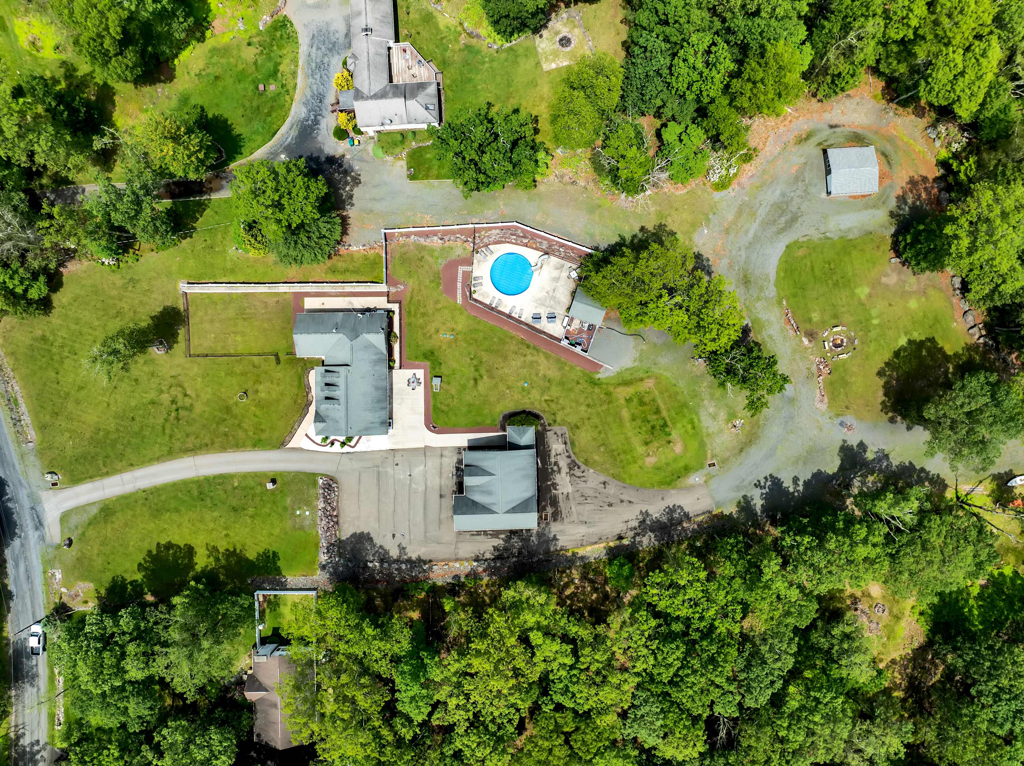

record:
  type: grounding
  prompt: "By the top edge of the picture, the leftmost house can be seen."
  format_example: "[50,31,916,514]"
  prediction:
[338,0,439,134]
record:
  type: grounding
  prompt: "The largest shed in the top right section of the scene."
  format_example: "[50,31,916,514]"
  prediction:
[821,146,878,197]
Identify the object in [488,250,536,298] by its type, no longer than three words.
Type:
swimming pool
